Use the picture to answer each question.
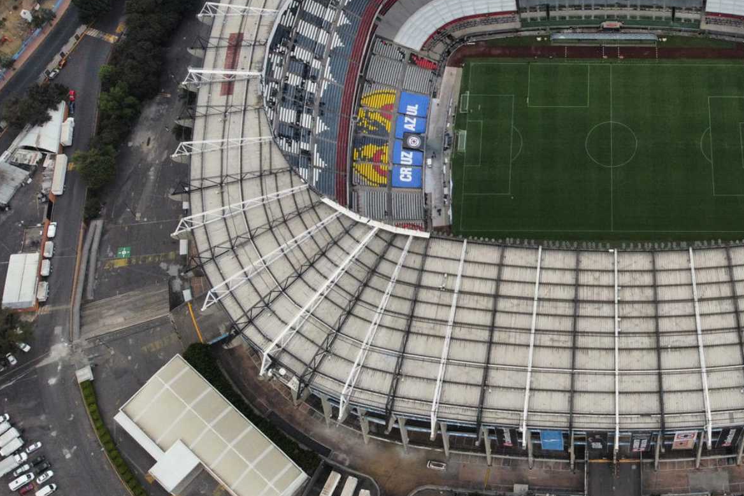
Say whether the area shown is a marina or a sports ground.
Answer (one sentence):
What you see here is a sports ground.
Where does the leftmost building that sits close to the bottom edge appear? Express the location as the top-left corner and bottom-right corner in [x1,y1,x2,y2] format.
[113,354,315,496]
